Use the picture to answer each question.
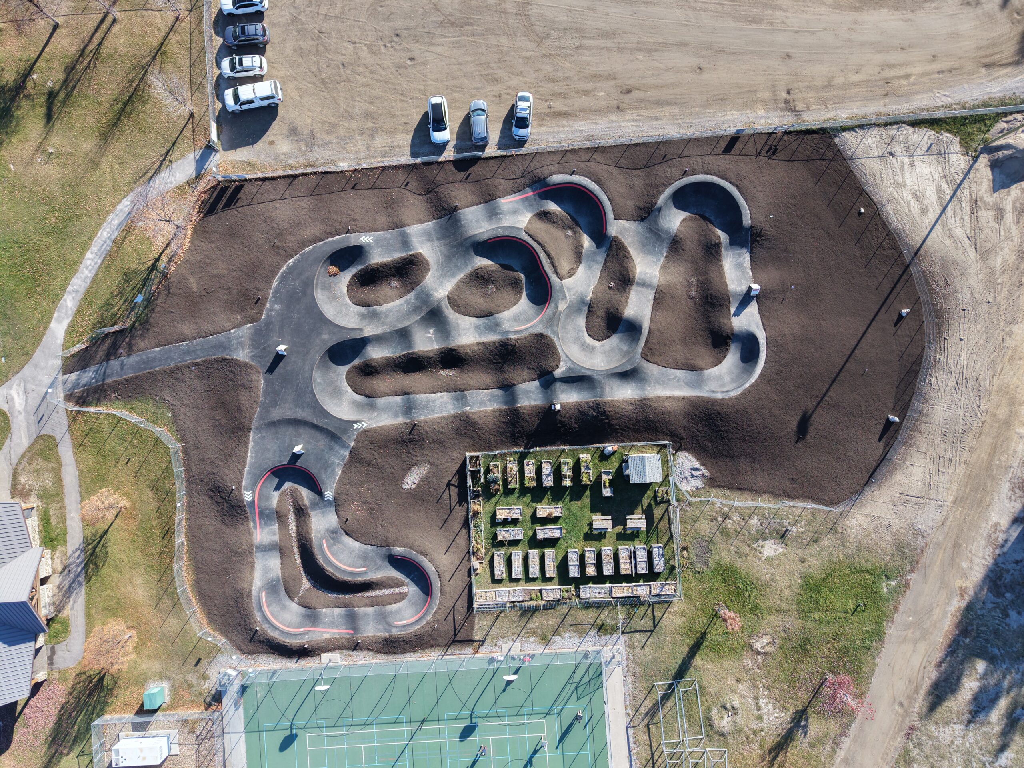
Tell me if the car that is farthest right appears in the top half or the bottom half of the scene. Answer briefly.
top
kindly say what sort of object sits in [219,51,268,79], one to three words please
car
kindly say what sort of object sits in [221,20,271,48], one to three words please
car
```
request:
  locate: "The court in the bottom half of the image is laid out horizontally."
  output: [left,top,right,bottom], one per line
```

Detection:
[241,649,608,768]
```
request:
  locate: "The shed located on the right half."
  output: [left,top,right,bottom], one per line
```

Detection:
[626,453,661,484]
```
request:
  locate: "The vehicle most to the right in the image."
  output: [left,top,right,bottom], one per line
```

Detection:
[511,89,534,140]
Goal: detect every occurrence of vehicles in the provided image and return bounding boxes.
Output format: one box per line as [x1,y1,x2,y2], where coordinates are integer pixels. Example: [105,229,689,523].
[221,20,271,48]
[222,78,283,113]
[218,0,269,16]
[511,89,534,140]
[427,94,451,145]
[467,97,491,144]
[219,51,268,79]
